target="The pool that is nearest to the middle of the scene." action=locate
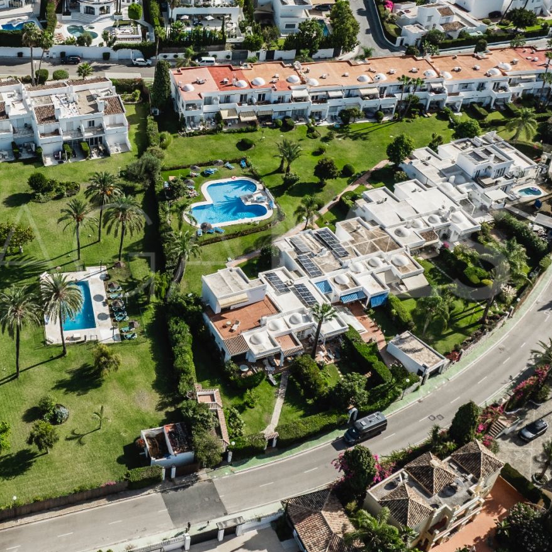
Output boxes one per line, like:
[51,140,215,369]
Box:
[188,177,271,228]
